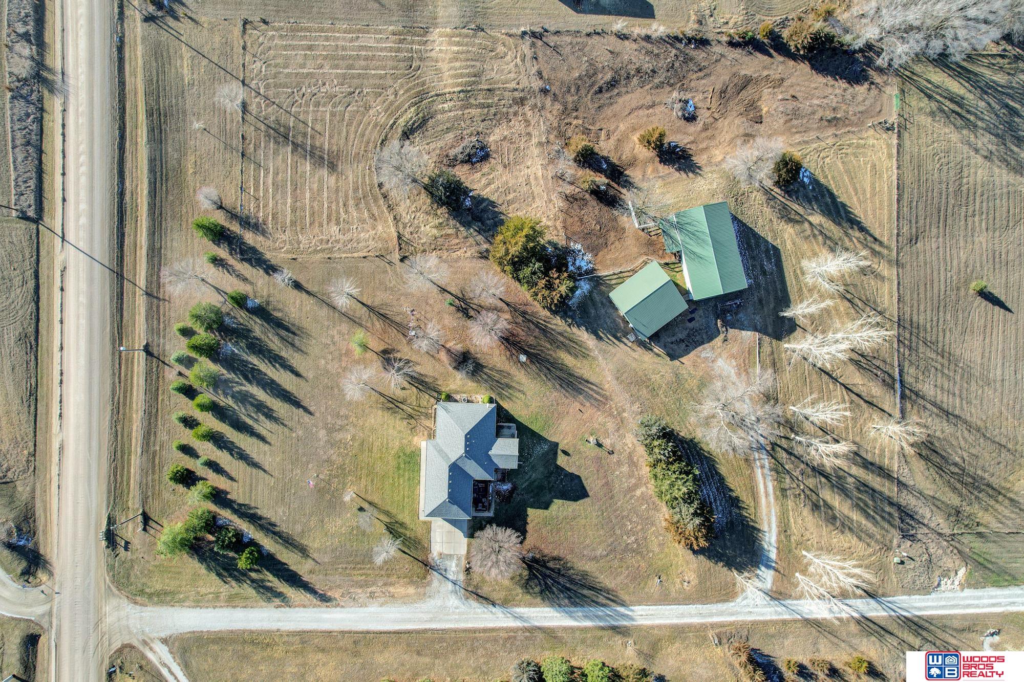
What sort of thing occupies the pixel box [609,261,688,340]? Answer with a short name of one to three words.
barn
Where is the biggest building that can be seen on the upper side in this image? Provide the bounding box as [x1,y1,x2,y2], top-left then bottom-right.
[673,201,748,300]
